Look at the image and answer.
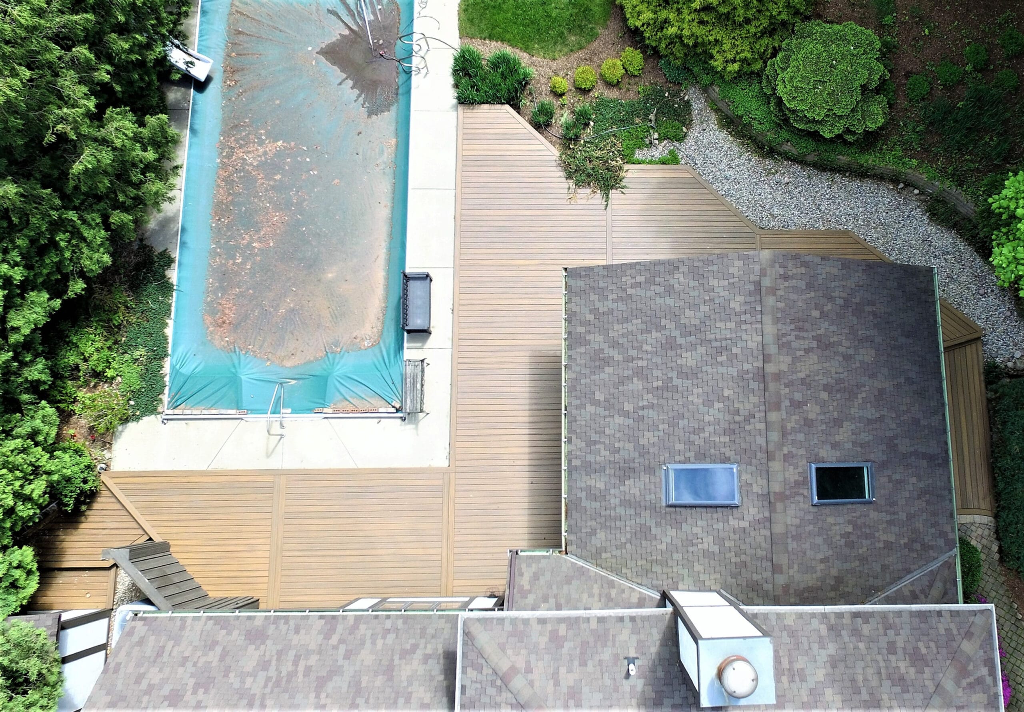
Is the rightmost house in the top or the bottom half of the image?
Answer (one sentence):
The rightmost house sits in the bottom half of the picture.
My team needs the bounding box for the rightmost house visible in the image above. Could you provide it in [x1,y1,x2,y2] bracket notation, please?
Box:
[86,249,1007,712]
